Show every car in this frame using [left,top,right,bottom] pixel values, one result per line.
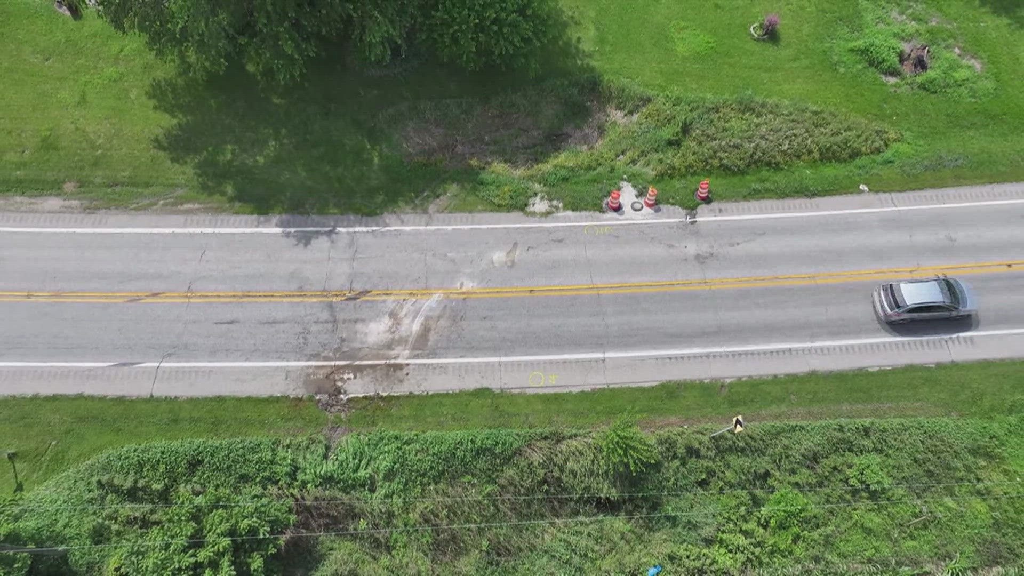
[874,273,982,323]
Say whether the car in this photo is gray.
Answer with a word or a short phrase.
Yes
